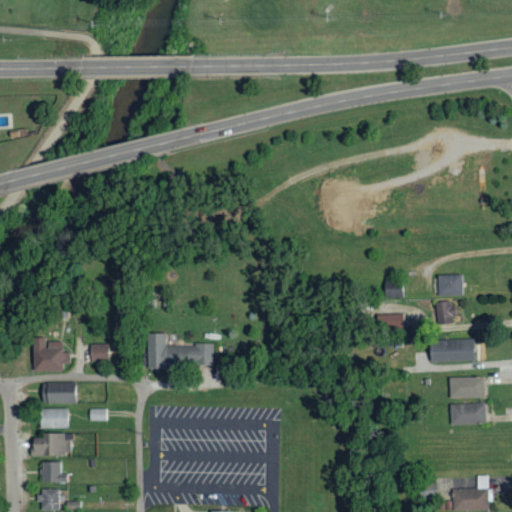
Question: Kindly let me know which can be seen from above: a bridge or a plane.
bridge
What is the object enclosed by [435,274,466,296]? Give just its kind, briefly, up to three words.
house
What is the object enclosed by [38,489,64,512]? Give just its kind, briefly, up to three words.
house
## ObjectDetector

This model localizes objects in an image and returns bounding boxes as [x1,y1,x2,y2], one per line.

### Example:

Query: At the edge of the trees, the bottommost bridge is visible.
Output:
[3,132,172,192]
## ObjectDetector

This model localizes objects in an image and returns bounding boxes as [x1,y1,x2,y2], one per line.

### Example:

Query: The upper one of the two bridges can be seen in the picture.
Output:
[81,56,194,77]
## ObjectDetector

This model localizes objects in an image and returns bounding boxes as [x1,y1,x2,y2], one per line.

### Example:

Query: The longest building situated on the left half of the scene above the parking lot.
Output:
[148,333,214,369]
